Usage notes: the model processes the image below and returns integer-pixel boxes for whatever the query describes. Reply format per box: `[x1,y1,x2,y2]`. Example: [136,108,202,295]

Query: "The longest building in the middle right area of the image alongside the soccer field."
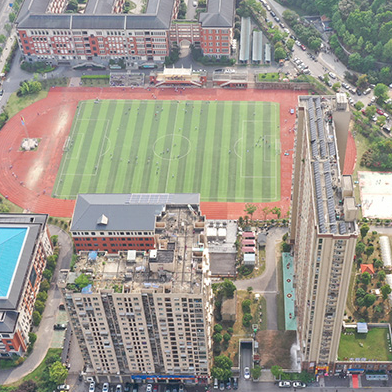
[289,89,372,370]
